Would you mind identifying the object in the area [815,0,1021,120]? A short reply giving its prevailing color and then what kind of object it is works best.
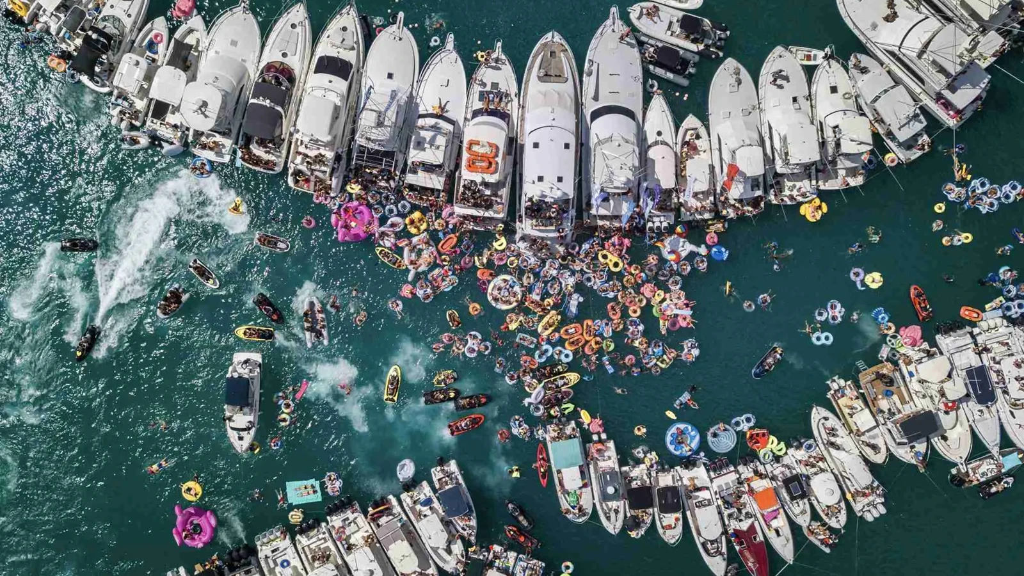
white boat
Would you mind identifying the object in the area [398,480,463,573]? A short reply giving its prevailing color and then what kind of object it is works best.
white boat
